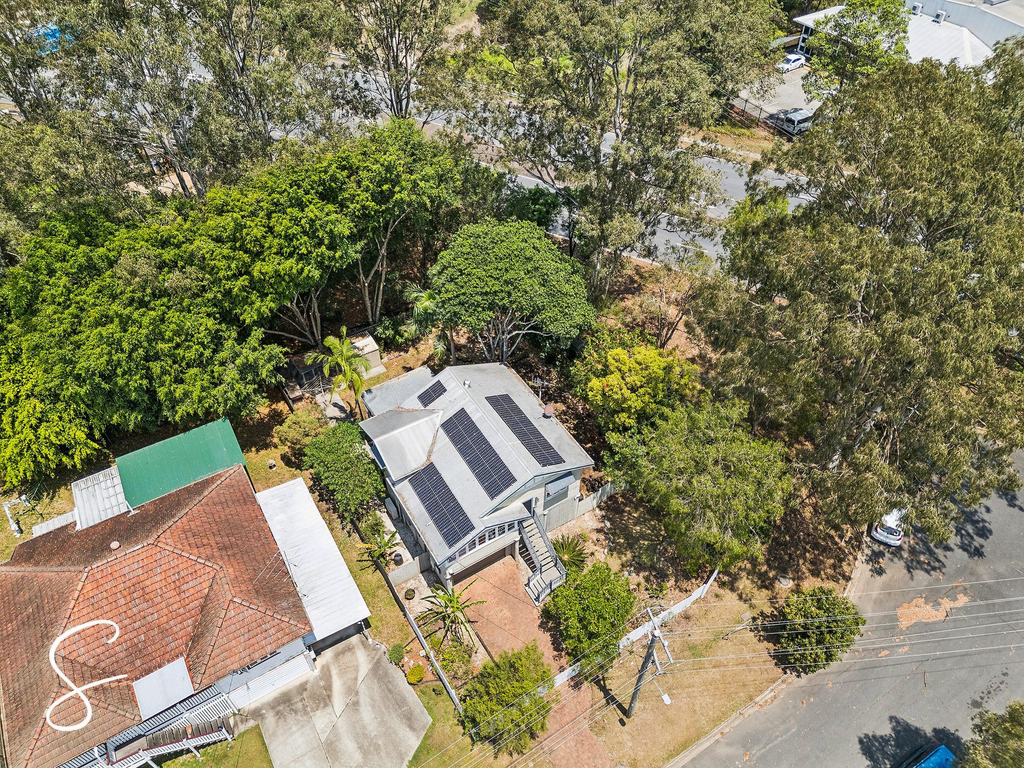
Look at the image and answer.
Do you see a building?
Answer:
Yes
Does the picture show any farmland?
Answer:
No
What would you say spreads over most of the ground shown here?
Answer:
trees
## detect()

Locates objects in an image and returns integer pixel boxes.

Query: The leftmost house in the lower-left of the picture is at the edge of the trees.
[0,416,372,768]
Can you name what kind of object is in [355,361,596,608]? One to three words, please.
house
